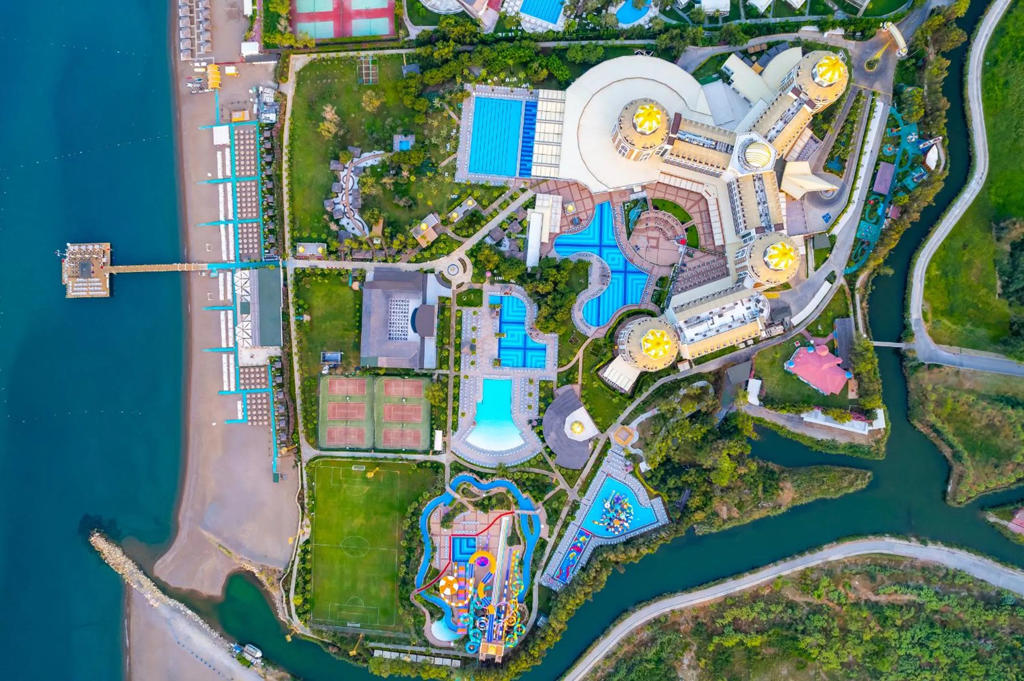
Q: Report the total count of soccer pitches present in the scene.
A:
1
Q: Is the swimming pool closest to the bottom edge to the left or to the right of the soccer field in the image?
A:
on its right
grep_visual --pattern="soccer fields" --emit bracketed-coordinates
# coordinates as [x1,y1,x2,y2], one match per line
[310,464,406,629]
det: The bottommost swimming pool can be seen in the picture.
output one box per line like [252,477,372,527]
[431,617,464,642]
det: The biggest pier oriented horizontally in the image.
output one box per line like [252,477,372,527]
[62,242,208,298]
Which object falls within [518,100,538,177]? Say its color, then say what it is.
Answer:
blue swimming pool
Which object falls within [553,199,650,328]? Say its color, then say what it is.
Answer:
blue swimming pool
